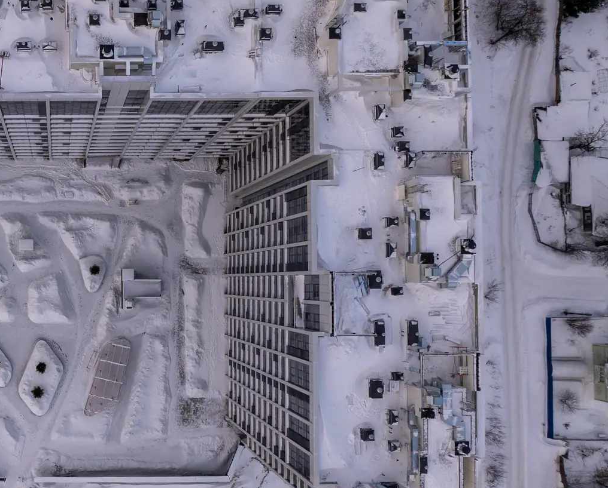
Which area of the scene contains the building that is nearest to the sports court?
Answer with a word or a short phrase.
left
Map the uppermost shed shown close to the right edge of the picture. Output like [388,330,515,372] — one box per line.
[555,71,591,101]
